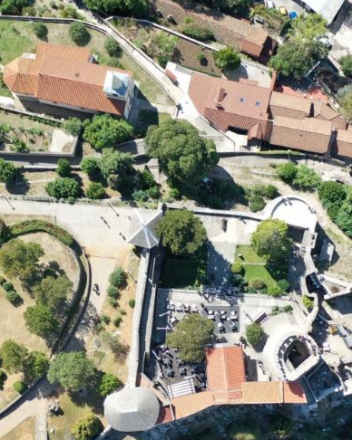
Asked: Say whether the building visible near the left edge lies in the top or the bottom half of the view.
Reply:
top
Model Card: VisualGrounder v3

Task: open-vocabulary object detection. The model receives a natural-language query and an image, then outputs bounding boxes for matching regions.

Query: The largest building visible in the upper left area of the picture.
[3,43,136,125]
